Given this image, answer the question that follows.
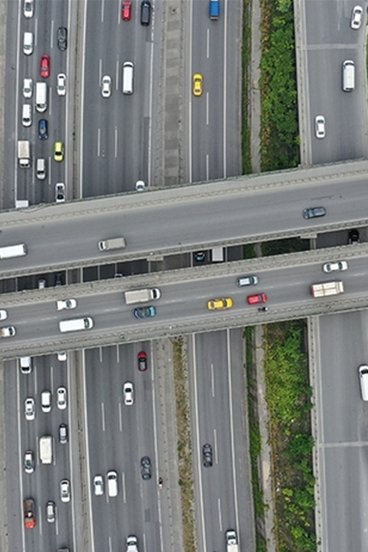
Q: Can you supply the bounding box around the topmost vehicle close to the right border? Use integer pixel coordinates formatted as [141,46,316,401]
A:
[350,5,363,30]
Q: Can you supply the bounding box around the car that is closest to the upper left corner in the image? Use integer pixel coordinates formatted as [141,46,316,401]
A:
[22,0,34,18]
